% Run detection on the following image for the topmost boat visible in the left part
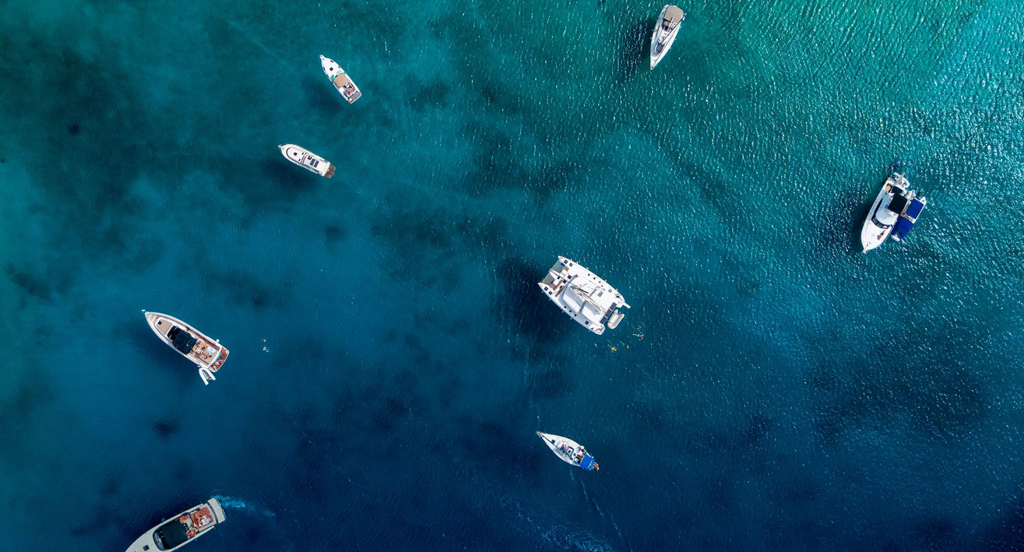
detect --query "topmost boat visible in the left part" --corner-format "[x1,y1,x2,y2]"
[319,54,362,105]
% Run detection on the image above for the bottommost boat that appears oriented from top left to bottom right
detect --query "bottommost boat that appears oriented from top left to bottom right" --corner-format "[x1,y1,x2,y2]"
[536,430,598,469]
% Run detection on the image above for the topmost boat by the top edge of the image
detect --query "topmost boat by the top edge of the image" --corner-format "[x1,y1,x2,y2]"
[651,3,686,70]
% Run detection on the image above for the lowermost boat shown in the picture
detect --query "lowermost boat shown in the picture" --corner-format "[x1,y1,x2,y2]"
[125,497,227,552]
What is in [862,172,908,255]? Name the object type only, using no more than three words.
boat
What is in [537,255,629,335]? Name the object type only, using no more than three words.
boat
